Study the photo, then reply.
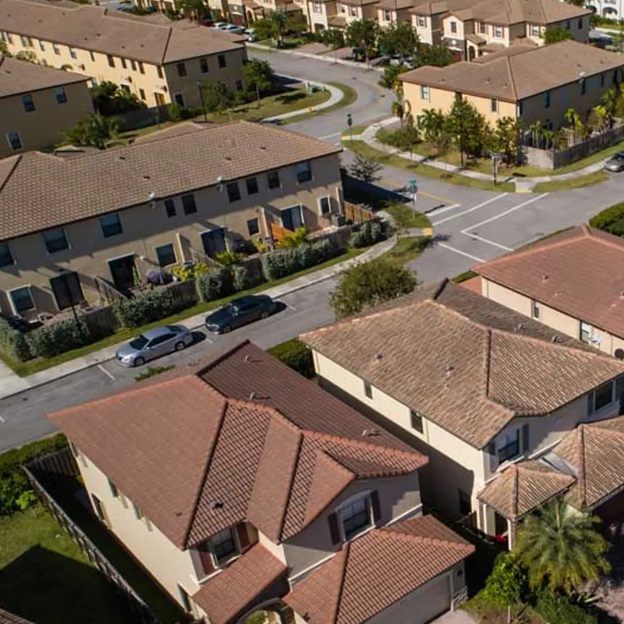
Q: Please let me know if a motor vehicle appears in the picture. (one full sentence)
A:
Yes, a motor vehicle appears in the view.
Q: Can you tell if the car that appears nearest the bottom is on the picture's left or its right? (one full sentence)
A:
The car that appears nearest the bottom sits on the left side.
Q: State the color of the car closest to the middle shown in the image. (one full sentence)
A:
In this view, the car closest to the middle is black.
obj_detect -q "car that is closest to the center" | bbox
[204,293,277,331]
